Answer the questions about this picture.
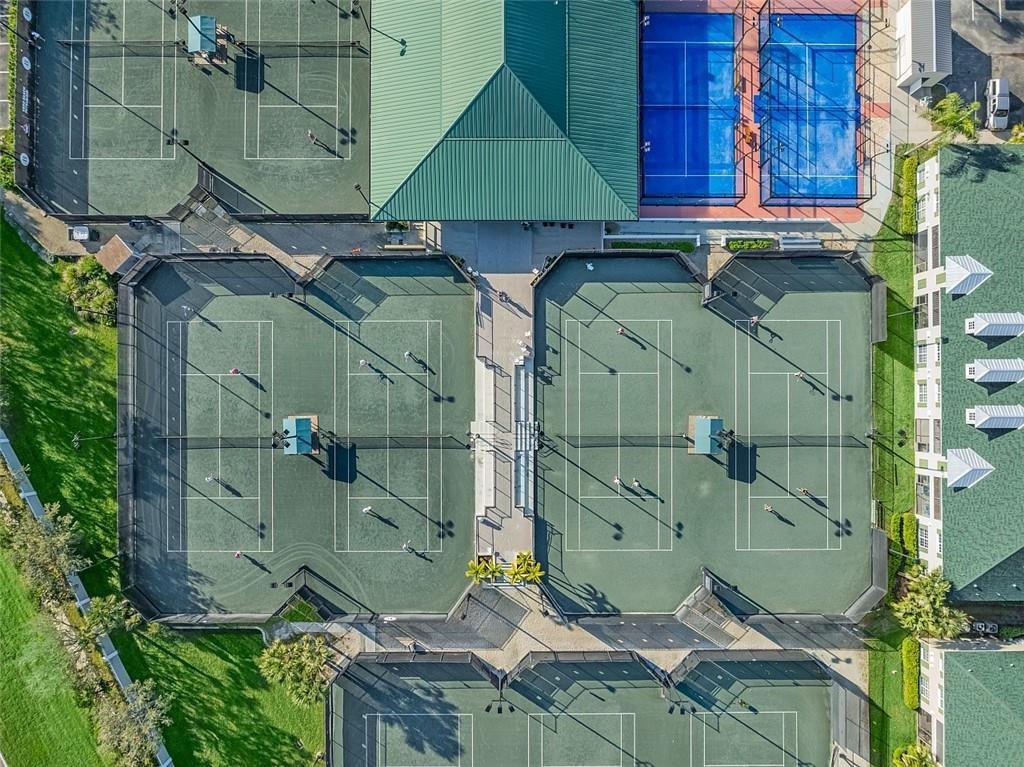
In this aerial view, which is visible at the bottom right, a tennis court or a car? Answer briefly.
tennis court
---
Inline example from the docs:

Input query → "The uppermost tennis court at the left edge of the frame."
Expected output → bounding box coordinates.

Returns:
[37,0,209,217]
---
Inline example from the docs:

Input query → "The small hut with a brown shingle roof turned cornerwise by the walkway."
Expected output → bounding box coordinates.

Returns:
[95,234,145,276]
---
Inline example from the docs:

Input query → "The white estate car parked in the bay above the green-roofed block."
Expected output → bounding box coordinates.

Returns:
[981,82,1009,130]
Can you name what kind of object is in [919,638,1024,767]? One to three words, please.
building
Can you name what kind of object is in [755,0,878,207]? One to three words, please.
sports court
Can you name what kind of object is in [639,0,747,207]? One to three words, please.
sports court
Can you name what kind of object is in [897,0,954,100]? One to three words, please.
building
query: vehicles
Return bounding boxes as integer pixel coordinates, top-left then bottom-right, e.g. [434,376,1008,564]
[72,225,101,241]
[1002,0,1024,9]
[981,82,1009,130]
